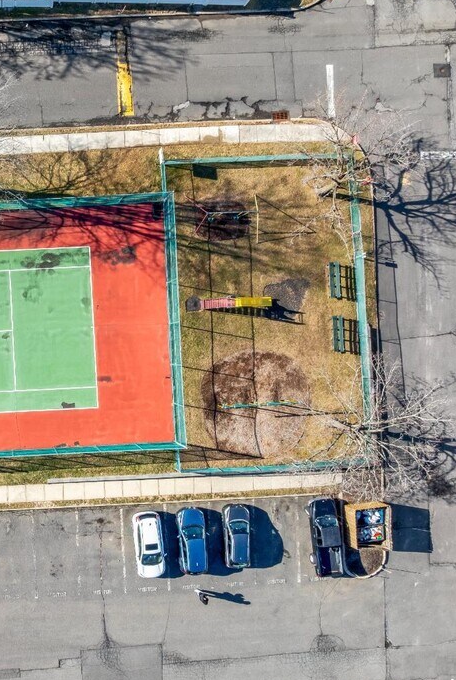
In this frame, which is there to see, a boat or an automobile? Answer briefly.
automobile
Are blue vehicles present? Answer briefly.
Yes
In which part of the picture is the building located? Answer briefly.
bottom right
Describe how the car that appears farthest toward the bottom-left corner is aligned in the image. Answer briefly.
from top to bottom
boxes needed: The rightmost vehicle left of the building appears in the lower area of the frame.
[307,497,348,578]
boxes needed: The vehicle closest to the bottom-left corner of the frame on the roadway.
[132,511,167,577]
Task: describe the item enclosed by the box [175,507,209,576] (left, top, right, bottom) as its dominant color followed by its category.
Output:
blue car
